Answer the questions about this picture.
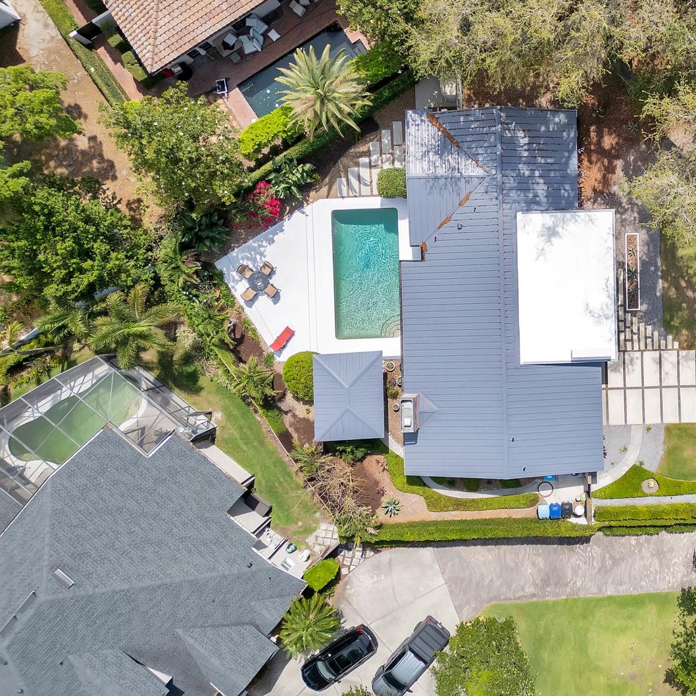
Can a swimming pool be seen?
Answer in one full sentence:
Yes, looking at the shot, I can spot a swimming pool.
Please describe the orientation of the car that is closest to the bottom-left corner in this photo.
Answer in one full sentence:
Seen from above, the car that is closest to the bottom-left corner lies on a diagonal.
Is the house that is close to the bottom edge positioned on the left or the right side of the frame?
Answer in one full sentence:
You can find the house that is close to the bottom edge on the left side of the picture.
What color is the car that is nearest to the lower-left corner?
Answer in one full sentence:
From above, the car that is nearest to the lower-left corner appears black.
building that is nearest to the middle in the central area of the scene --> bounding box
[313,350,390,443]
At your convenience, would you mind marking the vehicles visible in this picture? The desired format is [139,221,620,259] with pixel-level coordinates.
[300,621,381,694]
[367,613,451,696]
